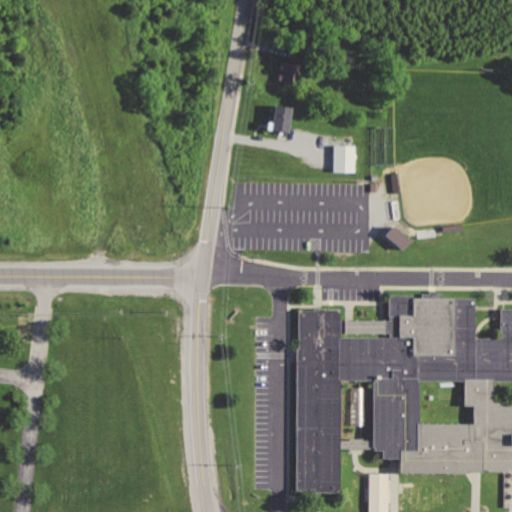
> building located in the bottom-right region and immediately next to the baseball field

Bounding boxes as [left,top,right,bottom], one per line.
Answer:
[297,294,512,493]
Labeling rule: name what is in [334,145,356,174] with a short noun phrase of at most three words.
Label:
building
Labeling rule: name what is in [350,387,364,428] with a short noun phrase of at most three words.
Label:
shed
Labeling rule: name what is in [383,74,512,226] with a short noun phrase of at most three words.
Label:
baseball field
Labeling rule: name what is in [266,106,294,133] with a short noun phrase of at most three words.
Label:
house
